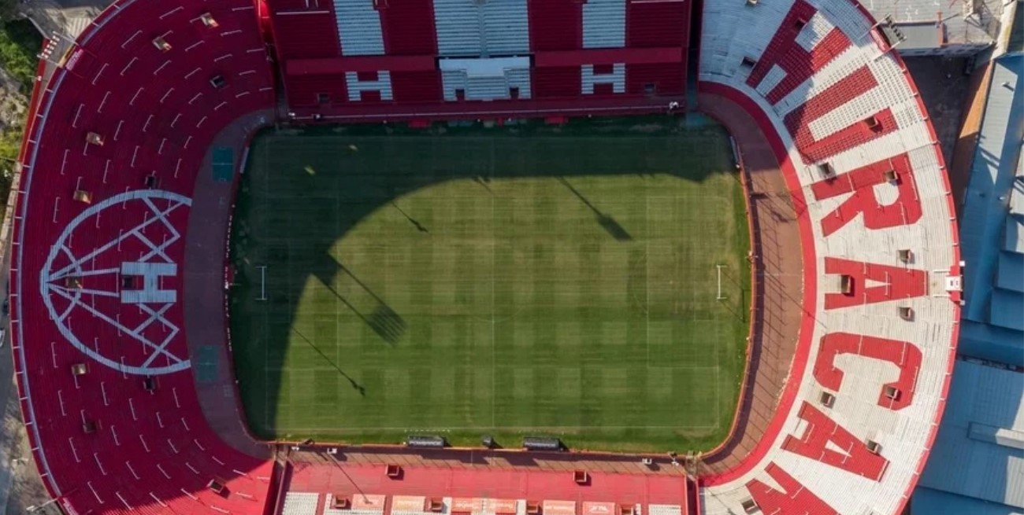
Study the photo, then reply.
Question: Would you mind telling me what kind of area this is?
sports ground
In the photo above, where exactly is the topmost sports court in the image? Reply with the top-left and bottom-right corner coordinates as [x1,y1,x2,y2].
[213,147,233,181]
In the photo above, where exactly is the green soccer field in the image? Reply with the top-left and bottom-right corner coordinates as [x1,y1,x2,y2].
[226,114,751,457]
